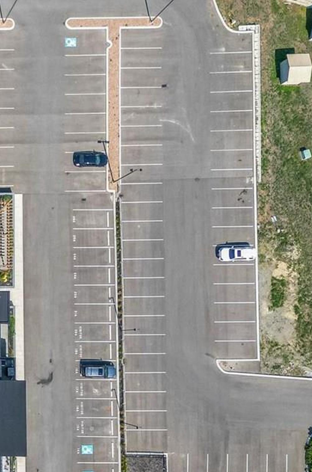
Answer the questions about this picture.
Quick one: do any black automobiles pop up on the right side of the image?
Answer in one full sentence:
No, looking on the right side of the image, there is no black automobile.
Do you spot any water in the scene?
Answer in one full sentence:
No, the scene doesn't show any water.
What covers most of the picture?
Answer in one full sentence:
What you mostly see from above here is paved ground.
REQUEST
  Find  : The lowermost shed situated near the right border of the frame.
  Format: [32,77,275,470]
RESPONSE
[278,54,312,88]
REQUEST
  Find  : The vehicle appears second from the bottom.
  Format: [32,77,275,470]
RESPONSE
[216,245,257,263]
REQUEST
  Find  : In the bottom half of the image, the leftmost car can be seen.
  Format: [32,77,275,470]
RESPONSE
[79,361,117,379]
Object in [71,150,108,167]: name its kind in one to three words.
car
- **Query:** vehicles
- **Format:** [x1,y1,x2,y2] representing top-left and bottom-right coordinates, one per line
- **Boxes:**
[216,245,257,263]
[71,150,108,167]
[79,361,117,379]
